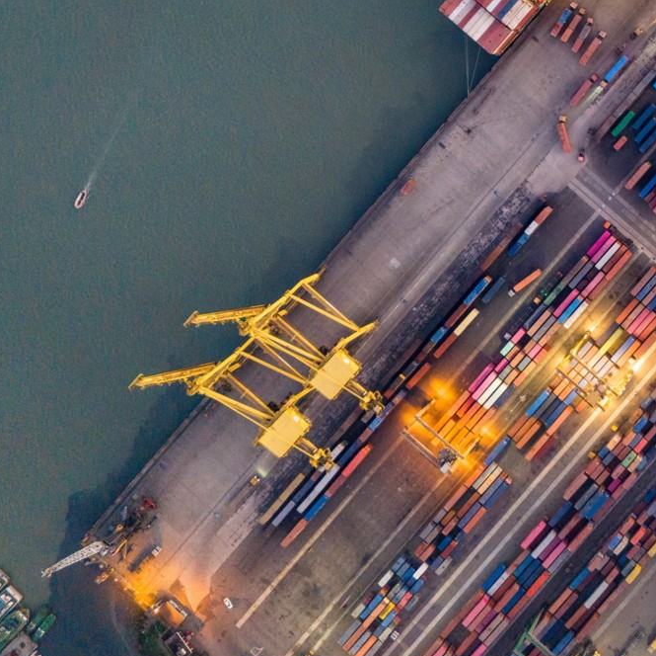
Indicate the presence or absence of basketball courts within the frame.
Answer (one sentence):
No, no basketball court is visible in the view.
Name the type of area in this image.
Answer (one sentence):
What you see here is a port.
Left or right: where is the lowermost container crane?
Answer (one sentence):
It is on the right.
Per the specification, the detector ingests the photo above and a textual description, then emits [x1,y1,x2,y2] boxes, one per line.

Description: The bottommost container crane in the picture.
[510,600,587,656]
